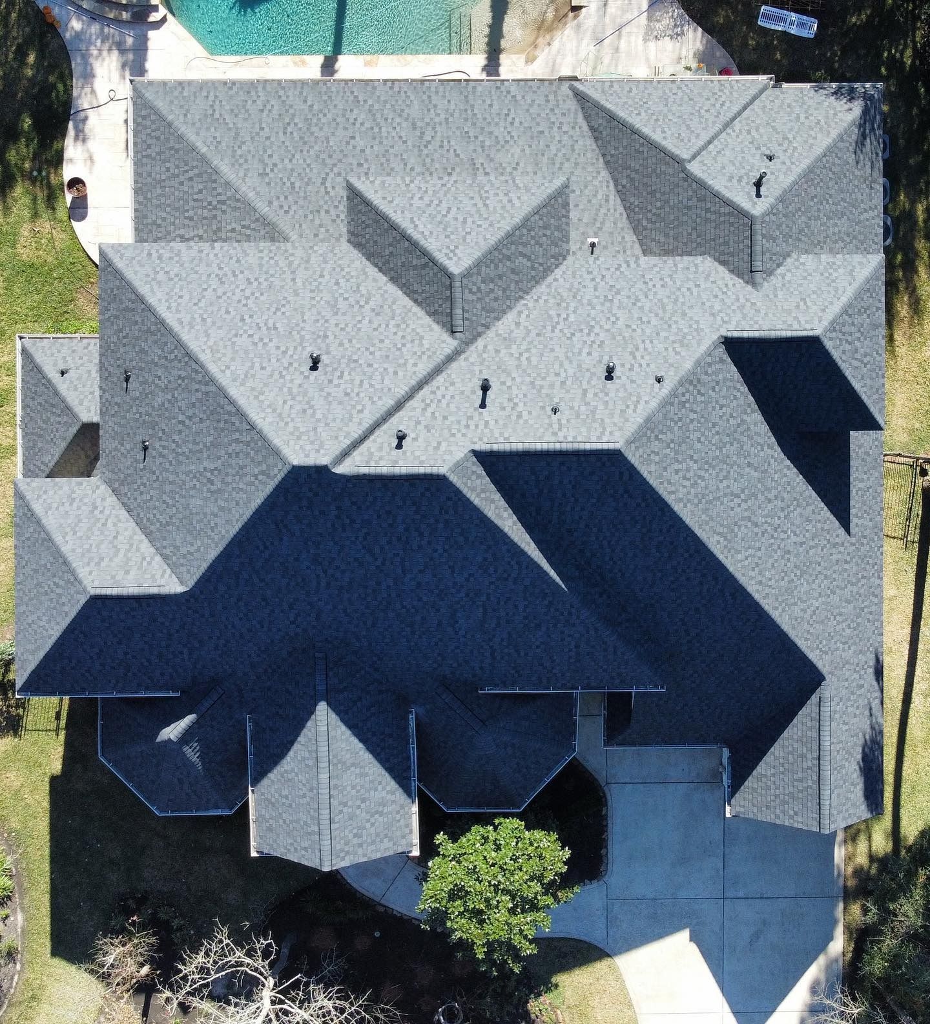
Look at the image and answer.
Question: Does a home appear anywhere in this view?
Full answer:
Yes, a home can be made out from above.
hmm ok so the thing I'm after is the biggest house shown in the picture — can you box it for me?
[13,74,886,872]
